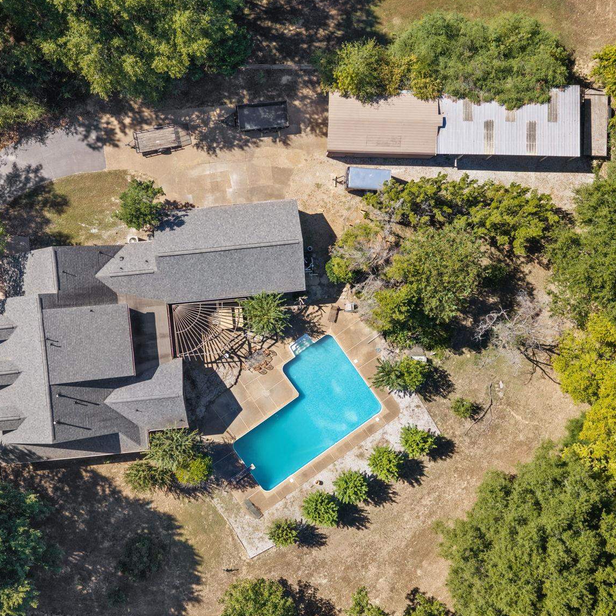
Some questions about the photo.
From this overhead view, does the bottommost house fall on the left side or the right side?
left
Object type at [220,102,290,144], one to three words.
trailer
